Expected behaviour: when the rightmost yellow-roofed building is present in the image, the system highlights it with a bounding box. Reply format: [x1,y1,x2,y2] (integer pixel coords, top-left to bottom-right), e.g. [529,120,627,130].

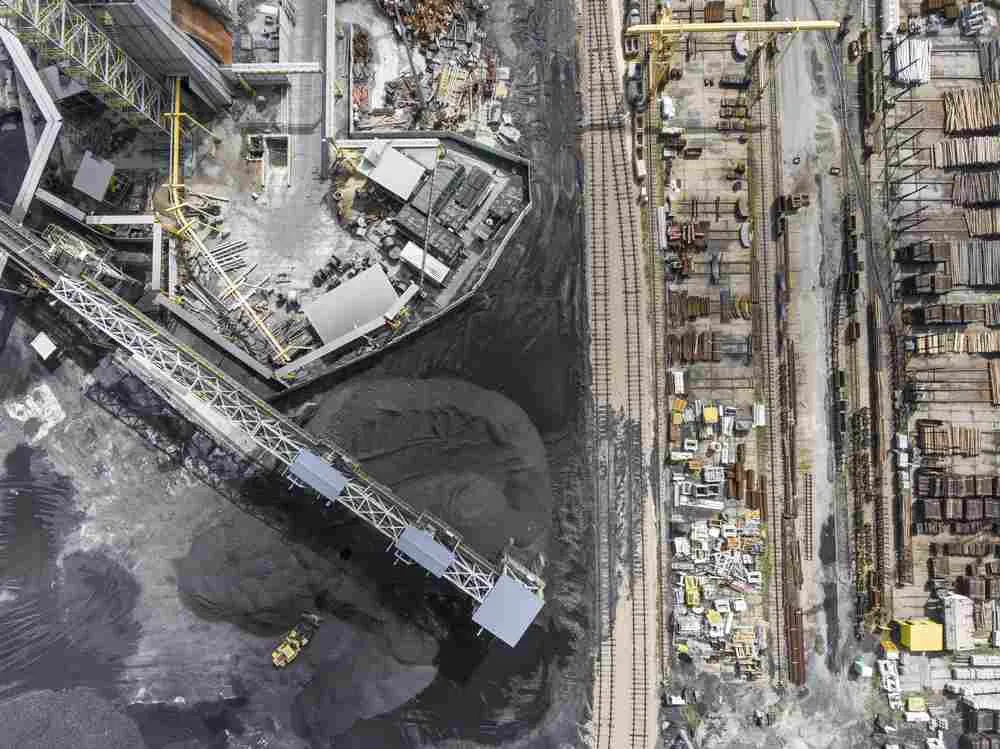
[900,618,943,651]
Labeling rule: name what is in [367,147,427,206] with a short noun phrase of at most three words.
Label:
shed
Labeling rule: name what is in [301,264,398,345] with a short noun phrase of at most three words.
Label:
building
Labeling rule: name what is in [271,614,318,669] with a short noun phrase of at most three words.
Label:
work vehicle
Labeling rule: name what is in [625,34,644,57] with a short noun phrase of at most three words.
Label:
vehicle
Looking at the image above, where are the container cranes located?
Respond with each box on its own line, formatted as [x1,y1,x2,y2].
[621,18,845,98]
